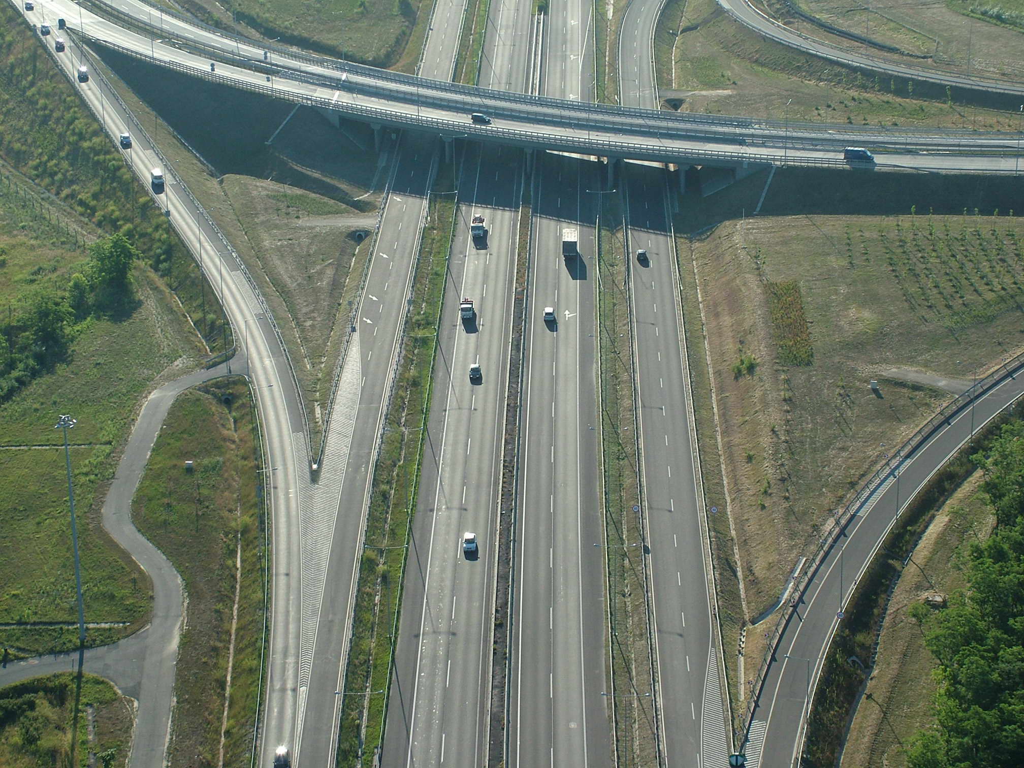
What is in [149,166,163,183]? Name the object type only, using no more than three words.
vehicle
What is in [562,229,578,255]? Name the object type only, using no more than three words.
vehicle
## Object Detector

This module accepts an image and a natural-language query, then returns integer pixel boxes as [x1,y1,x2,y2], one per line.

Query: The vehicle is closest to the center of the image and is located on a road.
[469,361,481,376]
